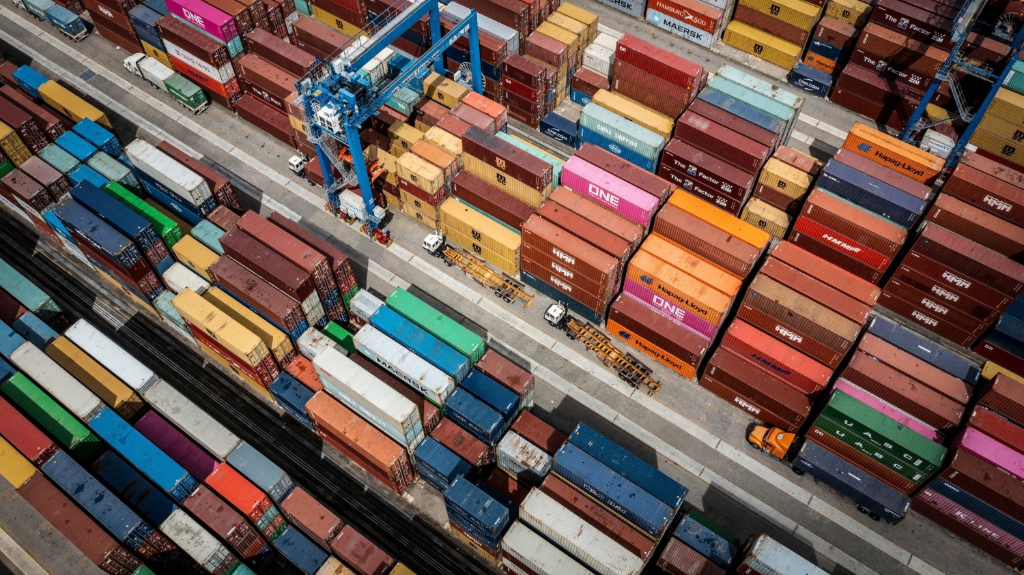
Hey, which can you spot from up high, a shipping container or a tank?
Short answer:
shipping container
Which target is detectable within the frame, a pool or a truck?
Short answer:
truck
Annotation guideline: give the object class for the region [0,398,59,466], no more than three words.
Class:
shipping container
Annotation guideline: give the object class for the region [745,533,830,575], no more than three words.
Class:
shipping container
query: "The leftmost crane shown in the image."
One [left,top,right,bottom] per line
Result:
[285,0,490,247]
